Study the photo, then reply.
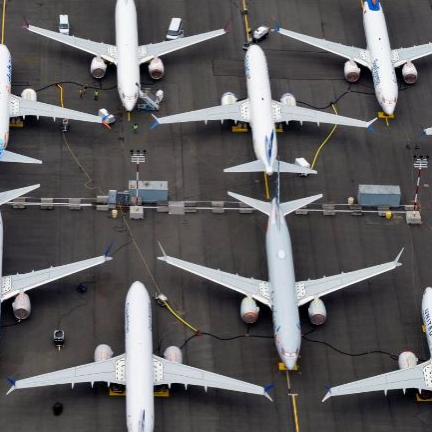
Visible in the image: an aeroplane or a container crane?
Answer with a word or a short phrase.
aeroplane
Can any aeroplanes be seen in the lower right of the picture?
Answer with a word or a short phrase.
Yes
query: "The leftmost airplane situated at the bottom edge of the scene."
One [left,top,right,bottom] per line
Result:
[4,280,276,432]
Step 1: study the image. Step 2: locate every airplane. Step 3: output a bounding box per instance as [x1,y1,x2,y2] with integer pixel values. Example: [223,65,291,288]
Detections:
[0,44,113,165]
[157,157,406,370]
[151,43,380,179]
[0,185,115,321]
[4,280,276,432]
[322,285,432,406]
[272,0,432,114]
[20,0,234,113]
